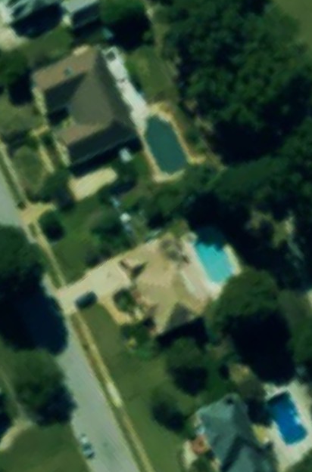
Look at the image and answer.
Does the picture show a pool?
Yes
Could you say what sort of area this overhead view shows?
residential area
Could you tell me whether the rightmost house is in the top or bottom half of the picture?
bottom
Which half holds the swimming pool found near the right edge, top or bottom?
bottom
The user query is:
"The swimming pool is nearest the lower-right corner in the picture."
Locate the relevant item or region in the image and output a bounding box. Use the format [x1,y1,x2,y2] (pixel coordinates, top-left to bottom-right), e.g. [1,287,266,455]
[266,381,312,467]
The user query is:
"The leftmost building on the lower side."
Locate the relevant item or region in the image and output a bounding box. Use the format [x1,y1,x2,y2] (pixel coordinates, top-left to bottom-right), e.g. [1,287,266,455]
[125,230,204,342]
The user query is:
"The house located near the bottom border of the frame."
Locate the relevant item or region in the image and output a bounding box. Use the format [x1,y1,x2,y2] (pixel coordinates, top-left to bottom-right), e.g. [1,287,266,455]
[201,395,277,472]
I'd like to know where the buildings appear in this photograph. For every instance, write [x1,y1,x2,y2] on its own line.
[201,395,277,472]
[64,0,105,28]
[0,0,41,26]
[33,44,137,166]
[125,230,204,342]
